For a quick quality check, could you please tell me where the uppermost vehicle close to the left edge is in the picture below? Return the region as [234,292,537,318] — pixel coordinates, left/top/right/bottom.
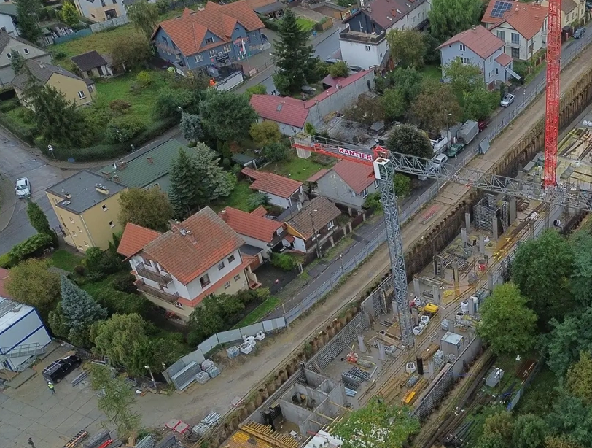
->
[15,180,31,196]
